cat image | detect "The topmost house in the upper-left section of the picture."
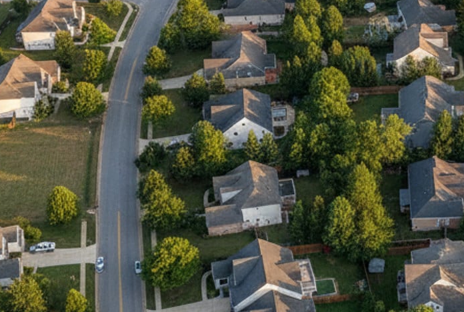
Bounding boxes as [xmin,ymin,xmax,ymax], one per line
[20,0,93,48]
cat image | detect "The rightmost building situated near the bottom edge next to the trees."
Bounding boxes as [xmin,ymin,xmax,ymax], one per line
[404,246,464,312]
